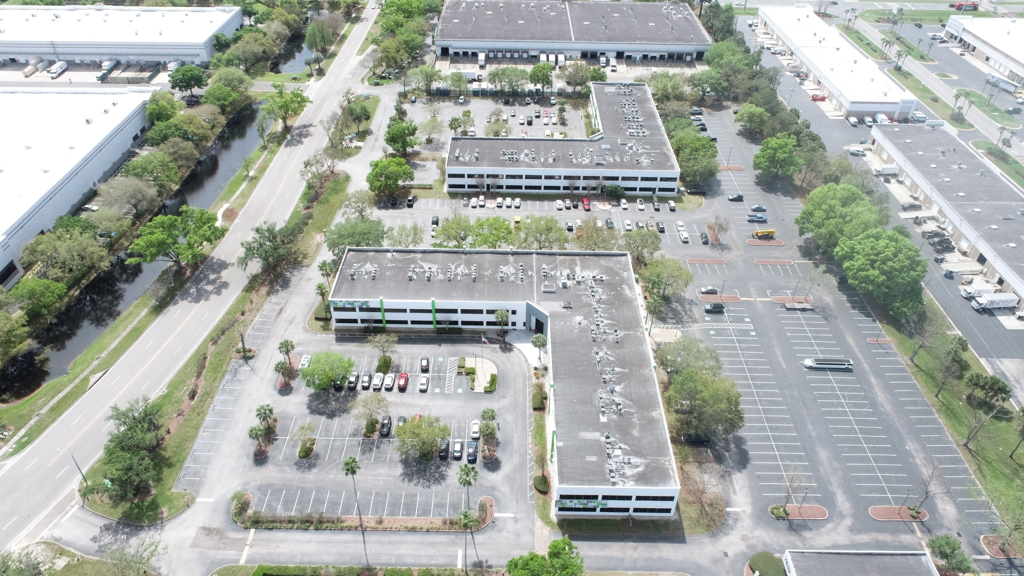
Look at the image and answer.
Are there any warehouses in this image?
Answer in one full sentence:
Yes, there's a warehouse here.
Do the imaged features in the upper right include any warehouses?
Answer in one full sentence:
Yes, I can see a warehouse in the upper right.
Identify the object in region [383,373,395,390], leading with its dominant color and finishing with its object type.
white vehicle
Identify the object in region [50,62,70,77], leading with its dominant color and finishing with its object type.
white vehicle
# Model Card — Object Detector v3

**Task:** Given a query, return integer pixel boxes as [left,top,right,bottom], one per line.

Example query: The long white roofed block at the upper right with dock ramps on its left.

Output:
[751,0,930,121]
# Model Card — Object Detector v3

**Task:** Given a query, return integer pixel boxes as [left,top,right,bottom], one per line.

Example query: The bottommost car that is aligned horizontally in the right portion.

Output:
[683,432,709,444]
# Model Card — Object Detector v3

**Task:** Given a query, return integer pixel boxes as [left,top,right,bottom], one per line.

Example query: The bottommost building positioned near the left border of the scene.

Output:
[0,85,165,279]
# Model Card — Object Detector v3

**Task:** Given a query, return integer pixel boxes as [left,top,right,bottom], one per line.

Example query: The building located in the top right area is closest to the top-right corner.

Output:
[940,20,1024,88]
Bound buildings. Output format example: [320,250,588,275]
[775,549,938,576]
[867,119,1024,318]
[751,0,930,121]
[940,20,1024,88]
[0,85,165,279]
[329,247,681,516]
[436,0,712,61]
[0,2,245,63]
[445,82,680,194]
